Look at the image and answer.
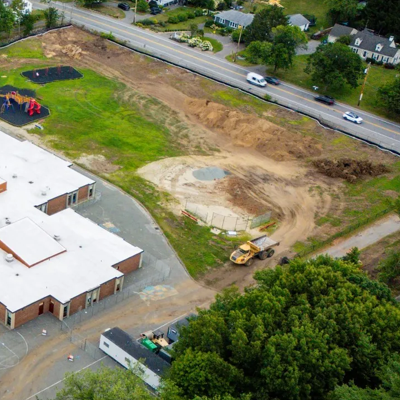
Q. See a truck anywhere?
Yes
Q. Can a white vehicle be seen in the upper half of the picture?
Yes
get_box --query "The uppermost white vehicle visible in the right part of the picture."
[244,69,267,86]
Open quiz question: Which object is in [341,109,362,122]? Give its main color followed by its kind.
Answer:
white vehicle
